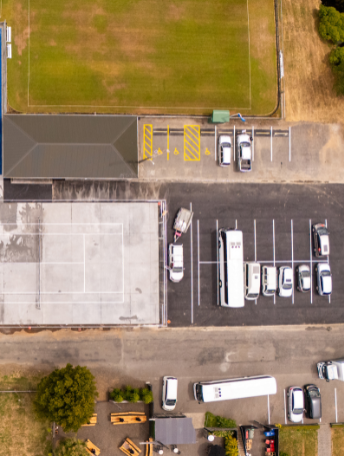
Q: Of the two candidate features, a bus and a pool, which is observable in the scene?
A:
bus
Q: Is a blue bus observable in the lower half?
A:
No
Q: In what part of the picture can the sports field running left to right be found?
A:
top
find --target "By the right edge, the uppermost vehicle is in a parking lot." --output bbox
[311,223,329,258]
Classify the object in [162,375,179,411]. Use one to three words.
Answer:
car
